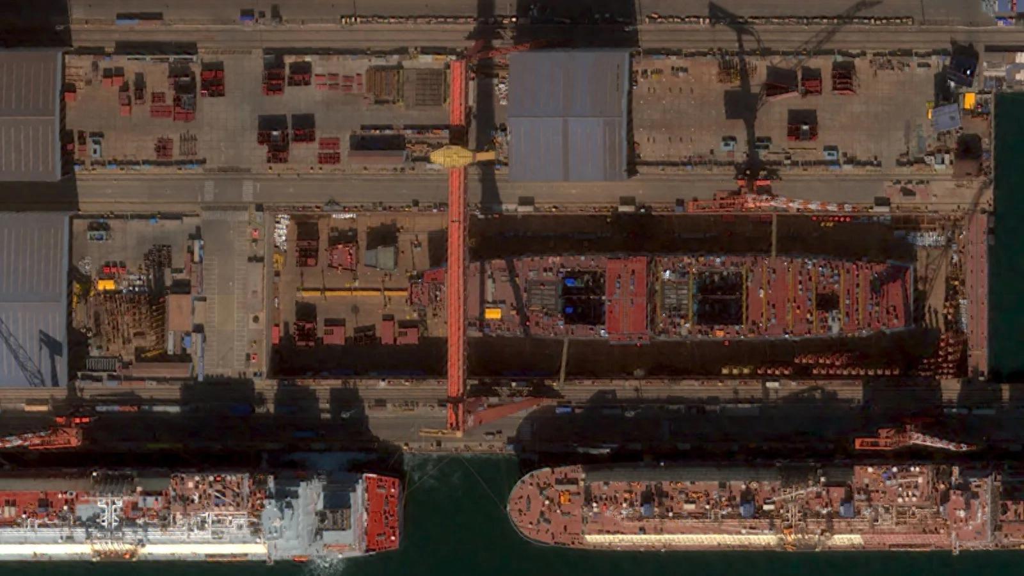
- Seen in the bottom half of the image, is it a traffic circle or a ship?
ship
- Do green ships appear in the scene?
No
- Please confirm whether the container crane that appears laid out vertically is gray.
No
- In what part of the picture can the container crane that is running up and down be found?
center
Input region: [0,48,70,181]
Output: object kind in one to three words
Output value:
shed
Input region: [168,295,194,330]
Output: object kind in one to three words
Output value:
shed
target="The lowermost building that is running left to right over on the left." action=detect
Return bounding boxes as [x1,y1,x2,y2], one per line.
[131,363,194,376]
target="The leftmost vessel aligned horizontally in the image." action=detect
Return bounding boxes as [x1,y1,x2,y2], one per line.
[0,467,403,565]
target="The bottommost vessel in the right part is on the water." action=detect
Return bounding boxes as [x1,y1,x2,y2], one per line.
[509,460,1024,555]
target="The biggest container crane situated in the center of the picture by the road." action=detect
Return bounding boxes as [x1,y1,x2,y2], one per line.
[430,39,566,431]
